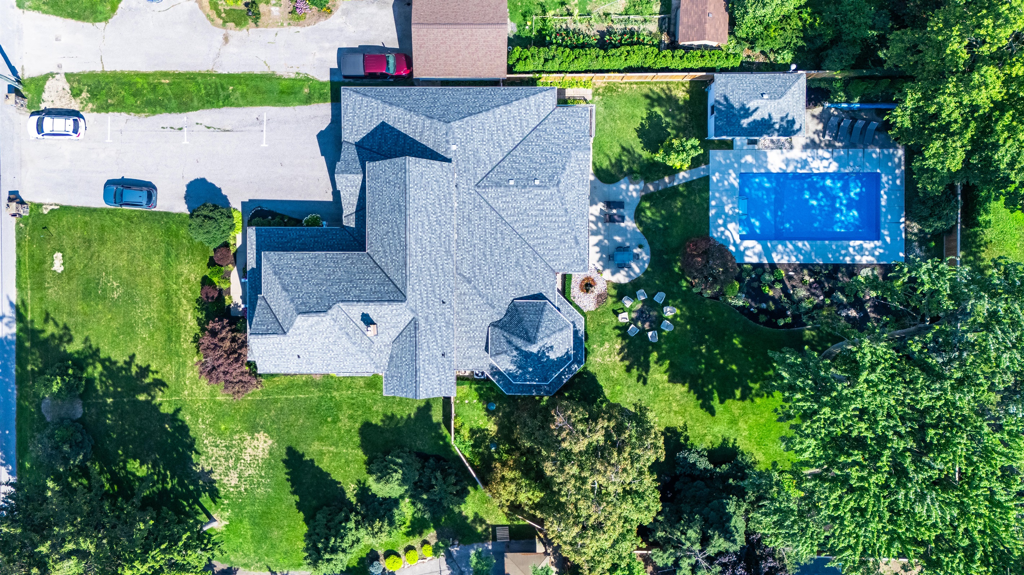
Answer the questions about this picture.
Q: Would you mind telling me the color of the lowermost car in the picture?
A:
blue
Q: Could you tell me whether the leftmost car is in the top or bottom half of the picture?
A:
top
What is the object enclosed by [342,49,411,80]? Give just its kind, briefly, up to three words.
truck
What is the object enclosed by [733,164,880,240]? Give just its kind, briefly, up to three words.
swimming pool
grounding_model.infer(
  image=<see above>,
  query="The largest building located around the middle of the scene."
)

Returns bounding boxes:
[235,84,591,399]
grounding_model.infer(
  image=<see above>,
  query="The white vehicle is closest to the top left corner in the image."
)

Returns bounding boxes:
[30,111,88,140]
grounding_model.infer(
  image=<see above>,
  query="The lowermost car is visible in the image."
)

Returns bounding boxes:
[106,182,159,210]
